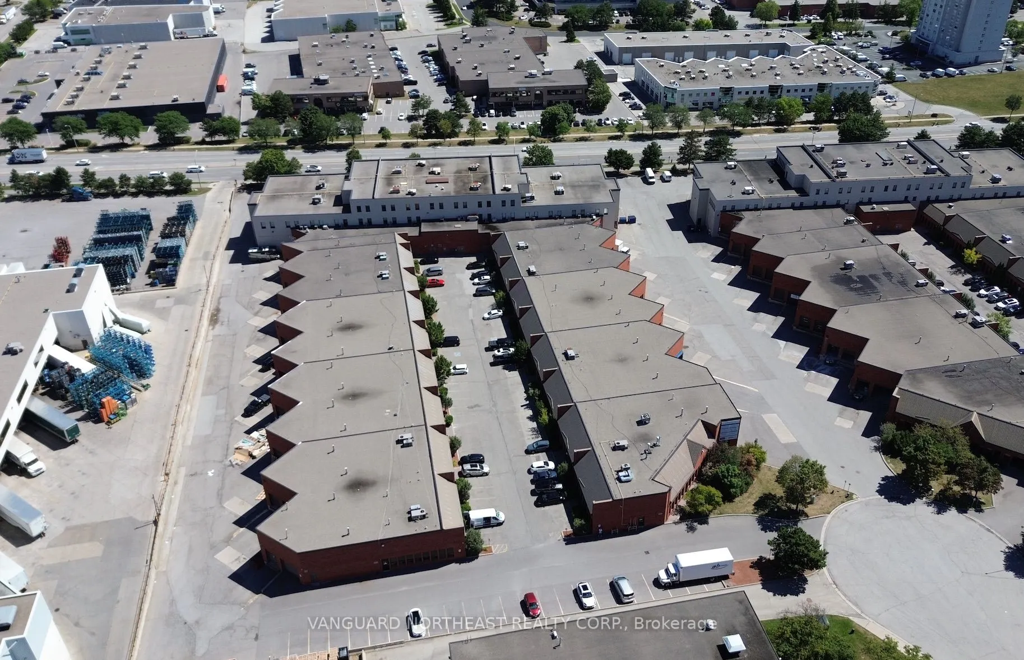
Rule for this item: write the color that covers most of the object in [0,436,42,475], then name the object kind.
white truck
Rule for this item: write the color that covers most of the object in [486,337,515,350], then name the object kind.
black vehicle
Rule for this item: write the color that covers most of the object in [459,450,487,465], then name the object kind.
black car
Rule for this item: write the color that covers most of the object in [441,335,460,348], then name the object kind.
black vehicle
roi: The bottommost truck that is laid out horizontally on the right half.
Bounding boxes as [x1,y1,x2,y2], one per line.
[658,546,733,586]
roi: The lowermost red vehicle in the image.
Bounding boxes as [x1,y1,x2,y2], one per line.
[523,591,542,619]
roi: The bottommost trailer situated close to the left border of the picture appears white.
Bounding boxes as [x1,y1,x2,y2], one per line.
[0,551,29,593]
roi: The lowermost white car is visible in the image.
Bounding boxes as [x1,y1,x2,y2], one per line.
[407,606,427,637]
